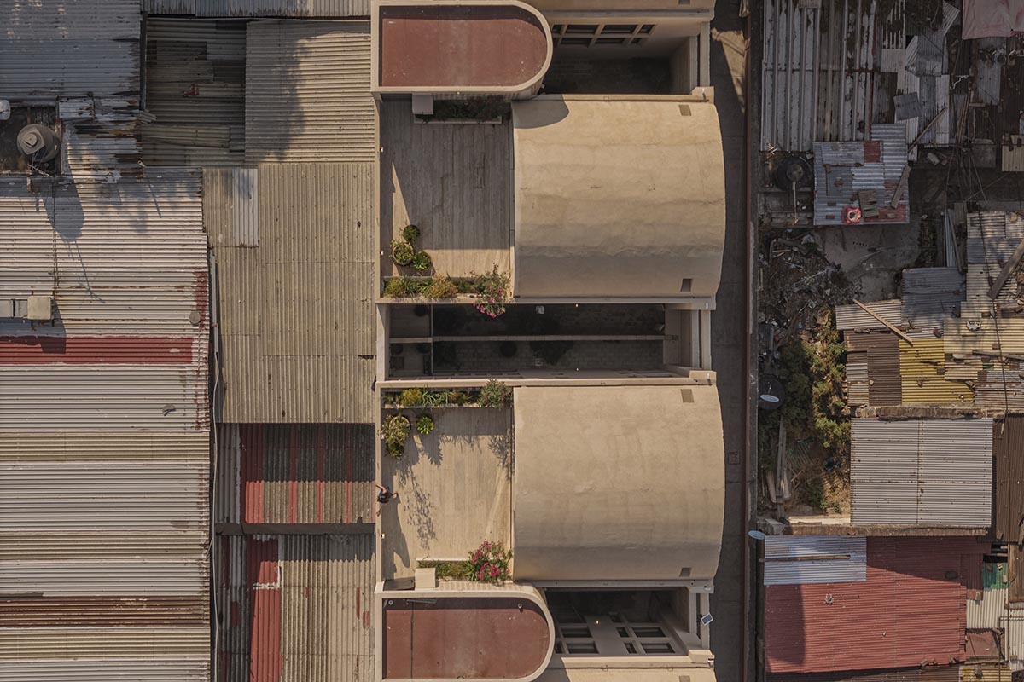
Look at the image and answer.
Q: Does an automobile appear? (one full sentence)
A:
No, there isn't any automobile down there.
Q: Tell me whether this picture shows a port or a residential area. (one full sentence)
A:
The picture captures a residential area.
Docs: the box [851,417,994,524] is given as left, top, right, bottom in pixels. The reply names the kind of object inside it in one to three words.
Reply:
house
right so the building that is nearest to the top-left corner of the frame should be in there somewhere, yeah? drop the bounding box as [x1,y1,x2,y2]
[0,0,142,102]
